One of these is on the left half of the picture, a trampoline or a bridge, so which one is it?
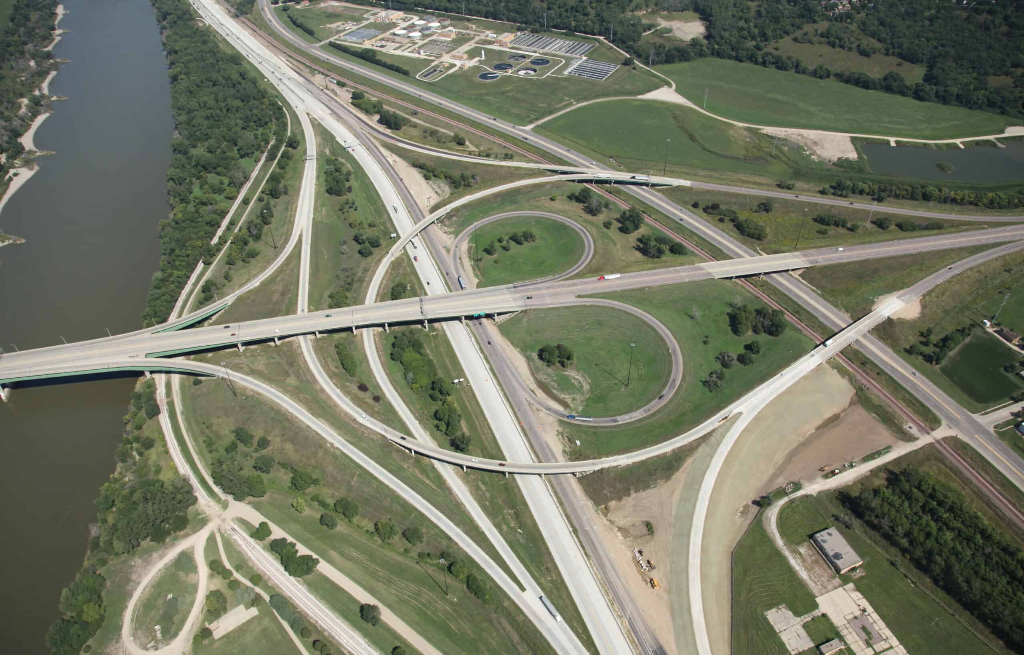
bridge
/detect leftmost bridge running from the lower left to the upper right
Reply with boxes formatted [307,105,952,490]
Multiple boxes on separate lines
[389,203,454,256]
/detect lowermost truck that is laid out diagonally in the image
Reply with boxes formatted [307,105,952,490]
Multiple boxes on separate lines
[539,594,562,624]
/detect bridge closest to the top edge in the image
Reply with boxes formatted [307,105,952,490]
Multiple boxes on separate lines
[537,164,675,189]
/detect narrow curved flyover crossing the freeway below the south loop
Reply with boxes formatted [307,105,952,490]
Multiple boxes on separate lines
[388,431,598,478]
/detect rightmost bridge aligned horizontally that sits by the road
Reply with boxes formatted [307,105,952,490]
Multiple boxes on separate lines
[697,251,810,281]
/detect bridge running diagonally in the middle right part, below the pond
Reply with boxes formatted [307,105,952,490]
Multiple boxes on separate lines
[801,303,896,368]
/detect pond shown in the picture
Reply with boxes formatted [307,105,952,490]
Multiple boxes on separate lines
[861,138,1024,182]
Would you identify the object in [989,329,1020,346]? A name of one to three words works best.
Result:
house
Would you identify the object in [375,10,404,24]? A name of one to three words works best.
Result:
building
